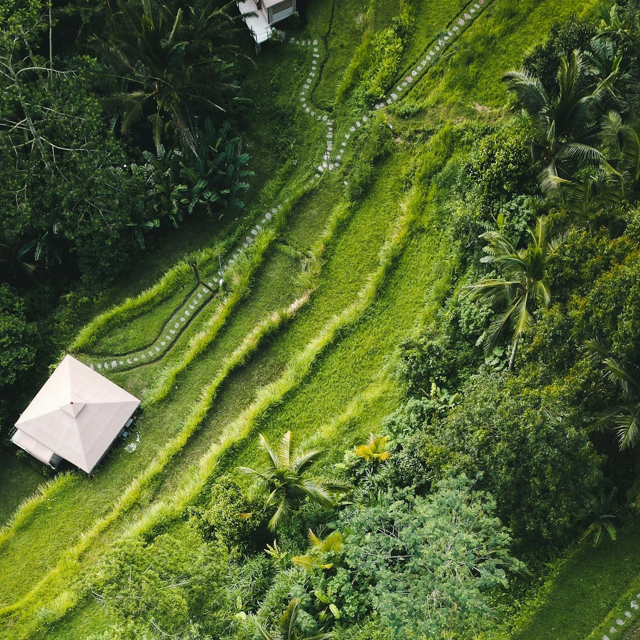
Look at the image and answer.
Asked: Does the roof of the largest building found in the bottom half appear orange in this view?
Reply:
No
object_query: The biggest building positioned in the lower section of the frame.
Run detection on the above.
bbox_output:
[8,358,142,476]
